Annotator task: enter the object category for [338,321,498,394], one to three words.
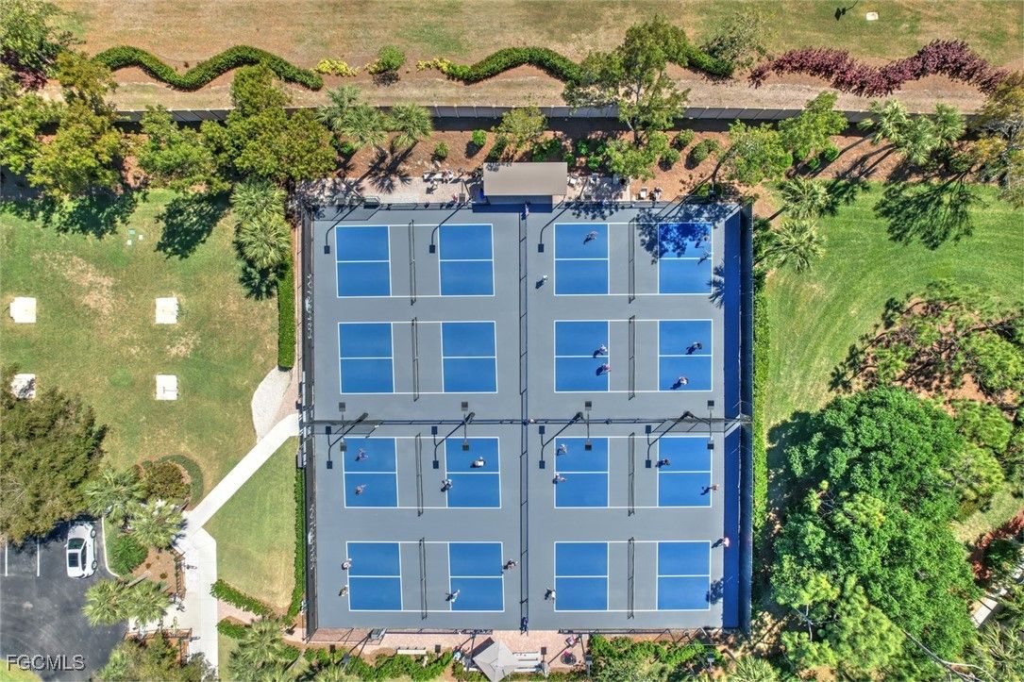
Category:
sports court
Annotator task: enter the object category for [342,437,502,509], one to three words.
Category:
sports court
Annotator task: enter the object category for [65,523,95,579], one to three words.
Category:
car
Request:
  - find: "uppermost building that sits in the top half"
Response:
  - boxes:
[483,161,569,200]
